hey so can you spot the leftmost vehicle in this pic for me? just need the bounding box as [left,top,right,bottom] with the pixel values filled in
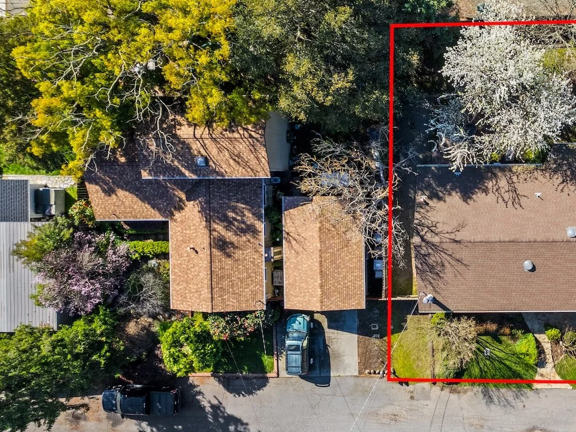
[106,383,183,416]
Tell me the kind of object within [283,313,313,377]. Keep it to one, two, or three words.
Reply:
truck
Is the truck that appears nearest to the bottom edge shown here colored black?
Yes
